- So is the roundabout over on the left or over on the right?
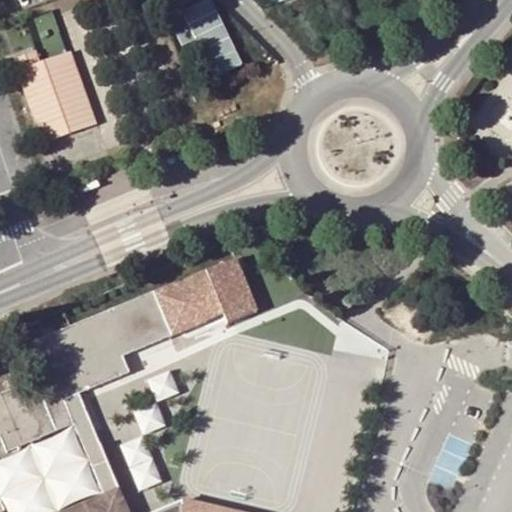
right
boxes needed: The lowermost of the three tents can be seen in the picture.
[118,436,161,494]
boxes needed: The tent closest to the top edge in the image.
[146,371,179,404]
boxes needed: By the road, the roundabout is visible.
[276,66,442,230]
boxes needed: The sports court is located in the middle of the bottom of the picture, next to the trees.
[183,333,328,512]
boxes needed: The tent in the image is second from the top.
[132,402,165,436]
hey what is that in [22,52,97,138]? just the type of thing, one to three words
building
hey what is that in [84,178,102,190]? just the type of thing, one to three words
vehicle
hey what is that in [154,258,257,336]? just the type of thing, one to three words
building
